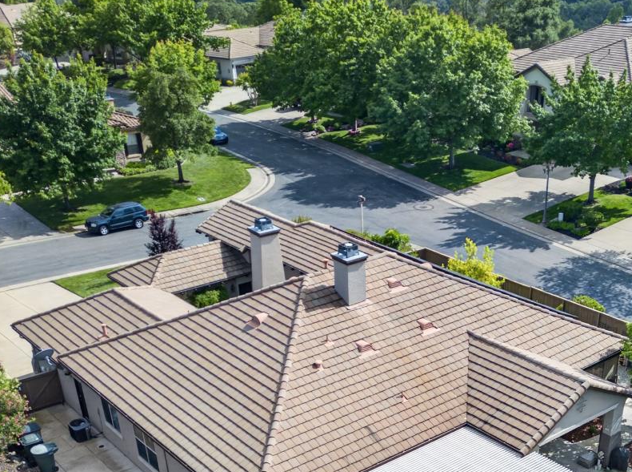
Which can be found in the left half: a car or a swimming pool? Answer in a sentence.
Visible in the left half is a car.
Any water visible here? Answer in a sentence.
No, no water is visible.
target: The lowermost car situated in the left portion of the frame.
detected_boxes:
[81,201,145,235]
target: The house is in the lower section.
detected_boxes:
[11,197,632,472]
